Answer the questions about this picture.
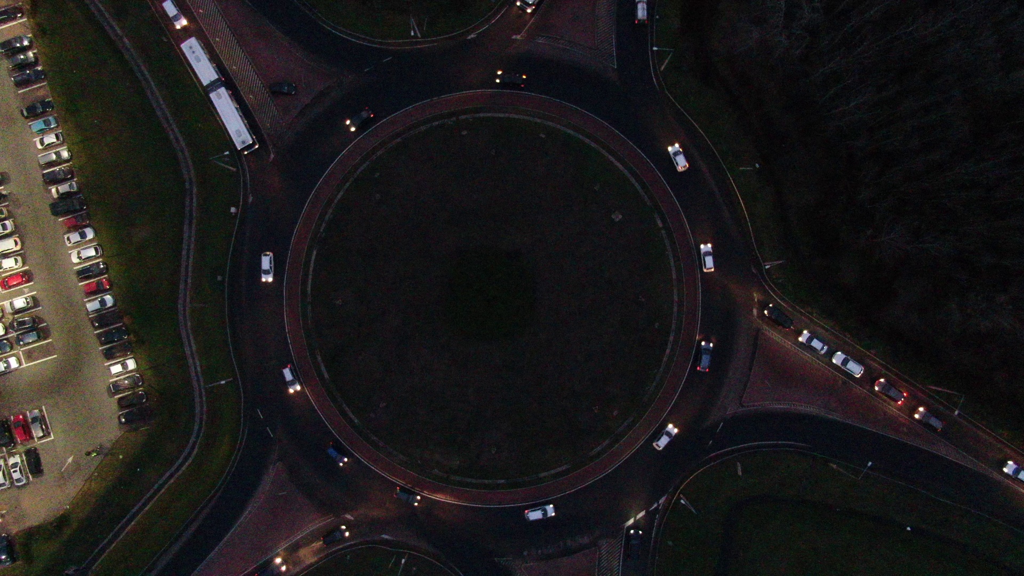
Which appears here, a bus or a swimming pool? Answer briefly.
bus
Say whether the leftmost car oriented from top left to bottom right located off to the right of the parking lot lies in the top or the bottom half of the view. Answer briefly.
top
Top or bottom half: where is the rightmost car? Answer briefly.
bottom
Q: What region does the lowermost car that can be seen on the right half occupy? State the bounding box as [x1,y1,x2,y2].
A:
[628,529,642,560]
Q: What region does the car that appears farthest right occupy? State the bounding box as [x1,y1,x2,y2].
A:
[1002,464,1024,487]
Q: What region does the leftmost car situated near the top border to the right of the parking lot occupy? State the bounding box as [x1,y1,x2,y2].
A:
[162,0,186,27]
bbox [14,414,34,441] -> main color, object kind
red car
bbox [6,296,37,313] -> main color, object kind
white car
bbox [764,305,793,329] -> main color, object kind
black car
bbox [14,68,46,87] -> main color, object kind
black car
